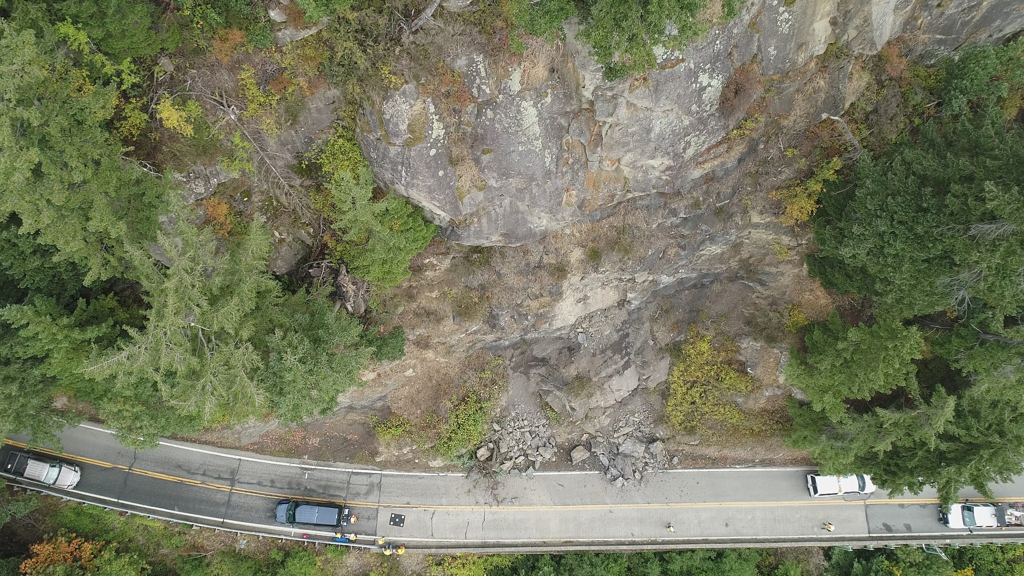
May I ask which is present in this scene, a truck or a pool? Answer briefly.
truck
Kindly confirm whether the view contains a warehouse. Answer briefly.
No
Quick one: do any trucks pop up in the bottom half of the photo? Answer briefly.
Yes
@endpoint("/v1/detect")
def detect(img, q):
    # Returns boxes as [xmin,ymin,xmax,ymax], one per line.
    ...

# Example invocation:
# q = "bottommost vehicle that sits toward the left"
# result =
[275,497,352,529]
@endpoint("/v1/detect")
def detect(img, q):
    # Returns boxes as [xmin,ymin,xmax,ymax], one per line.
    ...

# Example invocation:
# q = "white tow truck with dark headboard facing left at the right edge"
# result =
[937,501,1024,536]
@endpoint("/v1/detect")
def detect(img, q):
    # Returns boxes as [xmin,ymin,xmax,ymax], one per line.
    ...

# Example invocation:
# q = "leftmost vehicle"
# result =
[1,448,85,489]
